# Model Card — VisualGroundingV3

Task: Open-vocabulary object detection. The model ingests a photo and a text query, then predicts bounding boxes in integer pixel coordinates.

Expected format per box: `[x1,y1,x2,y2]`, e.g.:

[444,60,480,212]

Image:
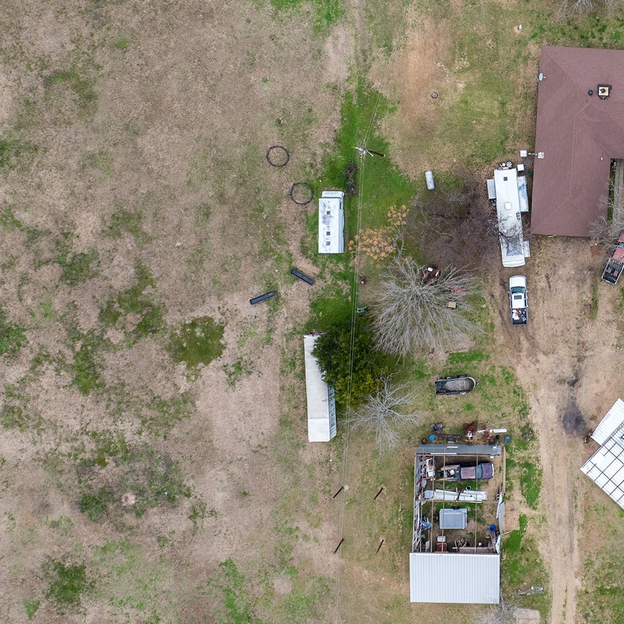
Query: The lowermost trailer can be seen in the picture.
[440,502,468,529]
